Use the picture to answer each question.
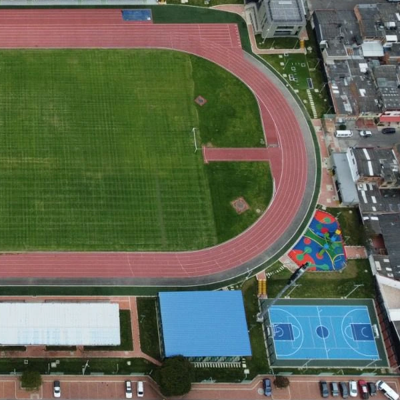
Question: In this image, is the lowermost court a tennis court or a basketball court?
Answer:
basketball court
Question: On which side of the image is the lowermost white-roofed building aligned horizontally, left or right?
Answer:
left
